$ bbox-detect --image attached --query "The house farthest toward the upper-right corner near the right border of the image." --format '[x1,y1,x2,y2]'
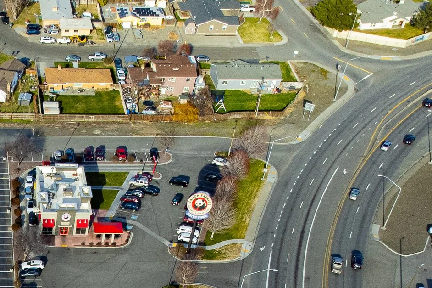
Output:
[354,4,421,32]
